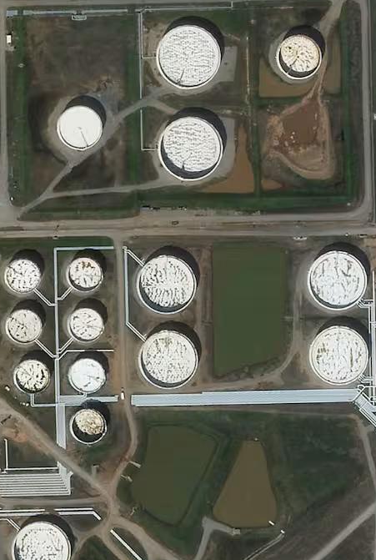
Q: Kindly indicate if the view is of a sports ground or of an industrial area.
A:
industrial area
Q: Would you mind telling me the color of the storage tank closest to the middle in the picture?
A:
white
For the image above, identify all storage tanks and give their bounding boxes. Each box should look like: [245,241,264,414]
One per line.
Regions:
[14,358,51,395]
[70,357,107,393]
[6,307,43,343]
[156,24,222,90]
[308,250,368,310]
[137,253,197,314]
[6,258,42,294]
[68,307,105,343]
[309,324,369,384]
[158,115,224,181]
[139,327,199,389]
[277,34,324,80]
[13,521,72,560]
[66,255,105,293]
[71,407,107,444]
[57,105,104,152]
